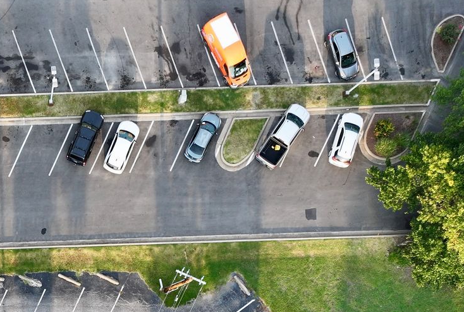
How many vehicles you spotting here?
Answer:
seven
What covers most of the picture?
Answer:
paved ground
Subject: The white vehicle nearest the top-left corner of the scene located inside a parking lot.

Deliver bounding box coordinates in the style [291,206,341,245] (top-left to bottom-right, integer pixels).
[104,121,139,173]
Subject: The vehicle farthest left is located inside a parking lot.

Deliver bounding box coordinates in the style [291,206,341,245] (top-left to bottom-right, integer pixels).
[66,109,102,166]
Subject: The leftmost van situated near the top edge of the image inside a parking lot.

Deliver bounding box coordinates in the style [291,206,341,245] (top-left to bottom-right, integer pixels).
[199,9,248,88]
